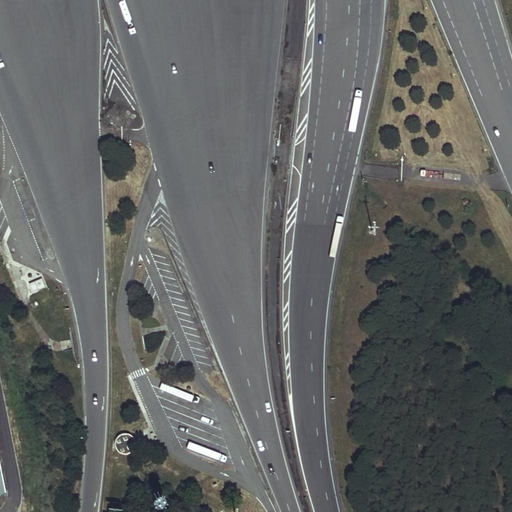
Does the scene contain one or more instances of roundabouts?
No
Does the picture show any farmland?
No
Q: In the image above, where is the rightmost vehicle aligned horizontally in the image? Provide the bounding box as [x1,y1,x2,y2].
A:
[420,168,462,182]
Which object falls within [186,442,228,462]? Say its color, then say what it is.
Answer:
white vehicle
